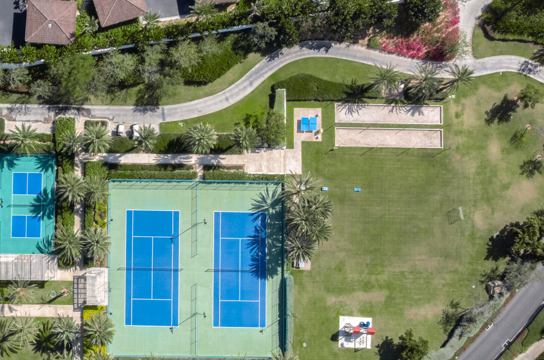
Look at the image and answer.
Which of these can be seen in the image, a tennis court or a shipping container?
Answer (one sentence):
Of the two, only a tennis court appears.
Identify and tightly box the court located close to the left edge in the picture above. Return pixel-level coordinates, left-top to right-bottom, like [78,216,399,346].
[0,154,55,254]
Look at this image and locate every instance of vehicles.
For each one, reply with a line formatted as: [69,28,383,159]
[131,123,140,137]
[117,123,125,136]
